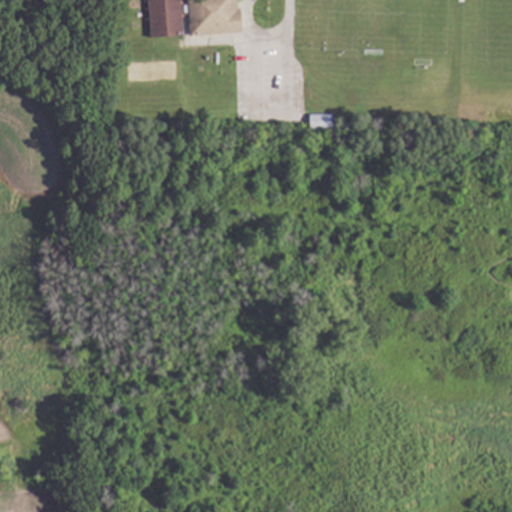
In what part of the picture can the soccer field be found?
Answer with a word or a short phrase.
top right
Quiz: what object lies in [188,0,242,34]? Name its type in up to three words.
building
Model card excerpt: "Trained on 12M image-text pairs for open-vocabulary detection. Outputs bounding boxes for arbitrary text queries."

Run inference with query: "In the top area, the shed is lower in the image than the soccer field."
[310,112,334,128]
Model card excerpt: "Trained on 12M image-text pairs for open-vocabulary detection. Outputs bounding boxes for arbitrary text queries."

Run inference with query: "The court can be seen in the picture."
[128,58,176,82]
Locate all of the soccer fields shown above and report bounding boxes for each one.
[296,0,450,54]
